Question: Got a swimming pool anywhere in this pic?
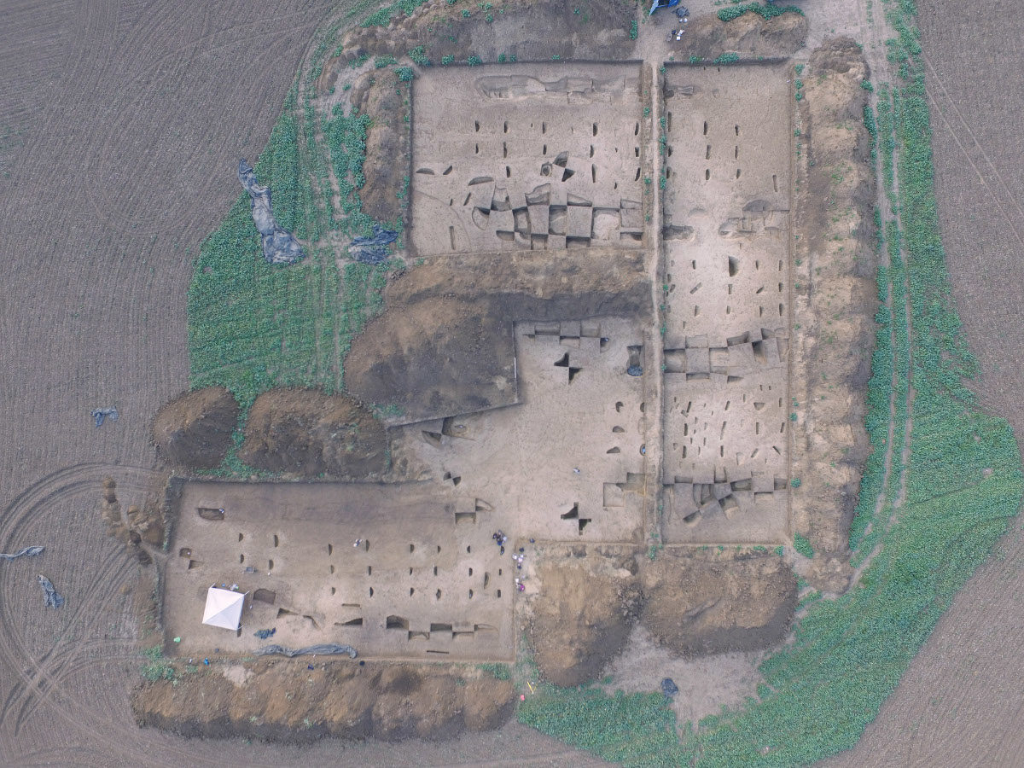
No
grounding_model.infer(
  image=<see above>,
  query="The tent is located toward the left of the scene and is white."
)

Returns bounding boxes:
[203,583,250,630]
